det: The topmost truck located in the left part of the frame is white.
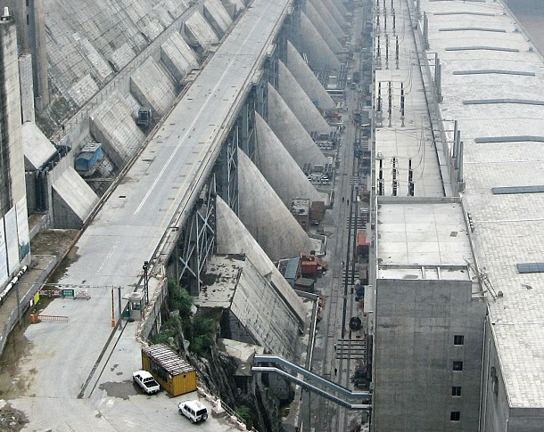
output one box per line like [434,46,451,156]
[125,367,158,390]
